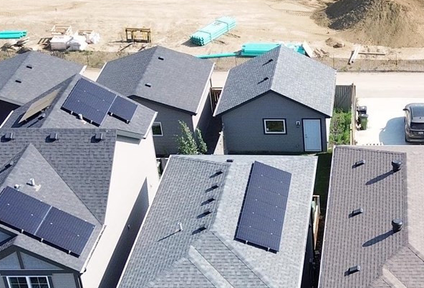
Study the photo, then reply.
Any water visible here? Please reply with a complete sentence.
No, no water is visible.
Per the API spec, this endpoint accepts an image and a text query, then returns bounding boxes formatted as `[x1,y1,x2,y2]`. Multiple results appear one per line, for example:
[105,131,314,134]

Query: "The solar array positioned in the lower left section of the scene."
[0,184,94,251]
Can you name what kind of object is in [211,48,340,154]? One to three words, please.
building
